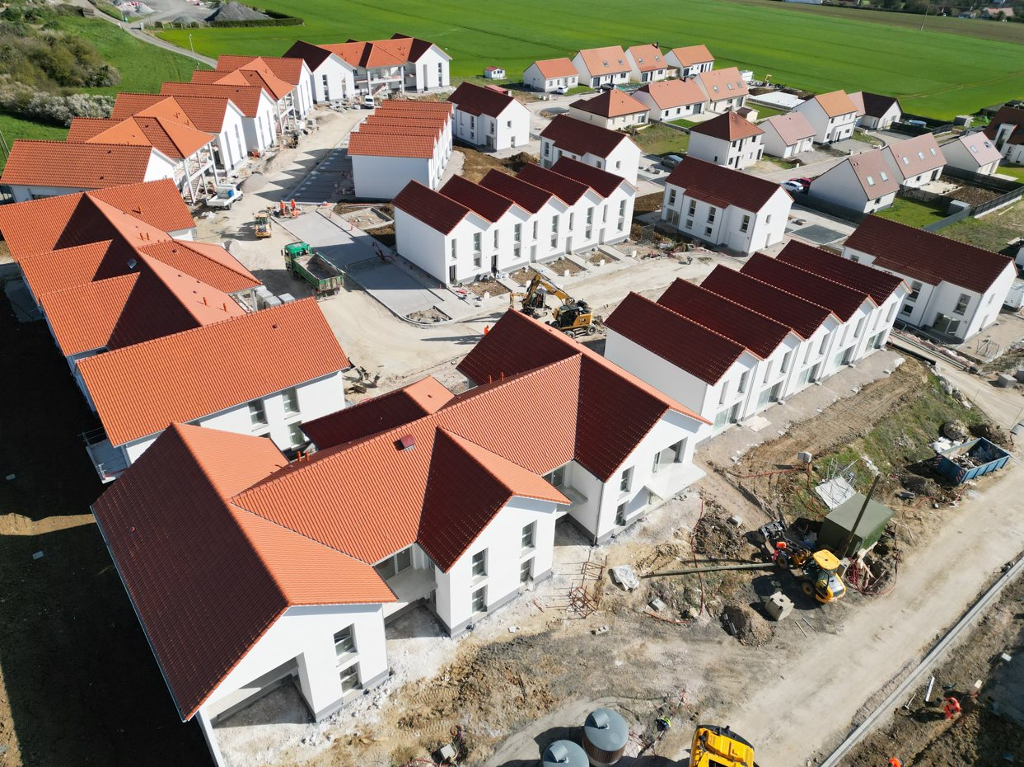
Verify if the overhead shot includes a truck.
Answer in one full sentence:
Yes, this view includes a truck.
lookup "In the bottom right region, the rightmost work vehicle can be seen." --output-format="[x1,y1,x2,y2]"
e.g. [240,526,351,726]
[760,535,849,605]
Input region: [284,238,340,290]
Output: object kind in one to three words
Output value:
truck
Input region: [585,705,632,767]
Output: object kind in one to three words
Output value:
water tank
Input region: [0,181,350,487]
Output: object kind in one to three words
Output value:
building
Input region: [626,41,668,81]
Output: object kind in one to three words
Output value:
house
